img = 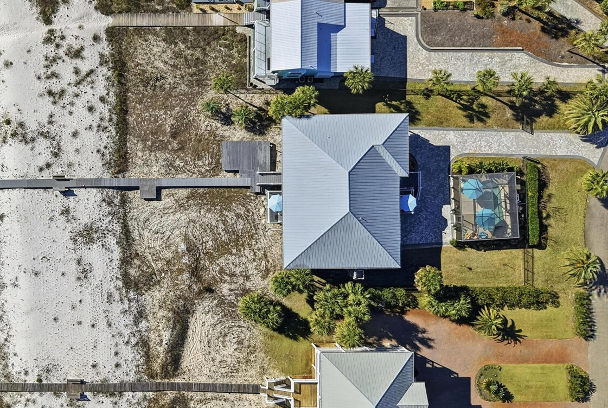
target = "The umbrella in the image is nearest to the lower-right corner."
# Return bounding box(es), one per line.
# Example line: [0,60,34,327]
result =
[476,210,495,229]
